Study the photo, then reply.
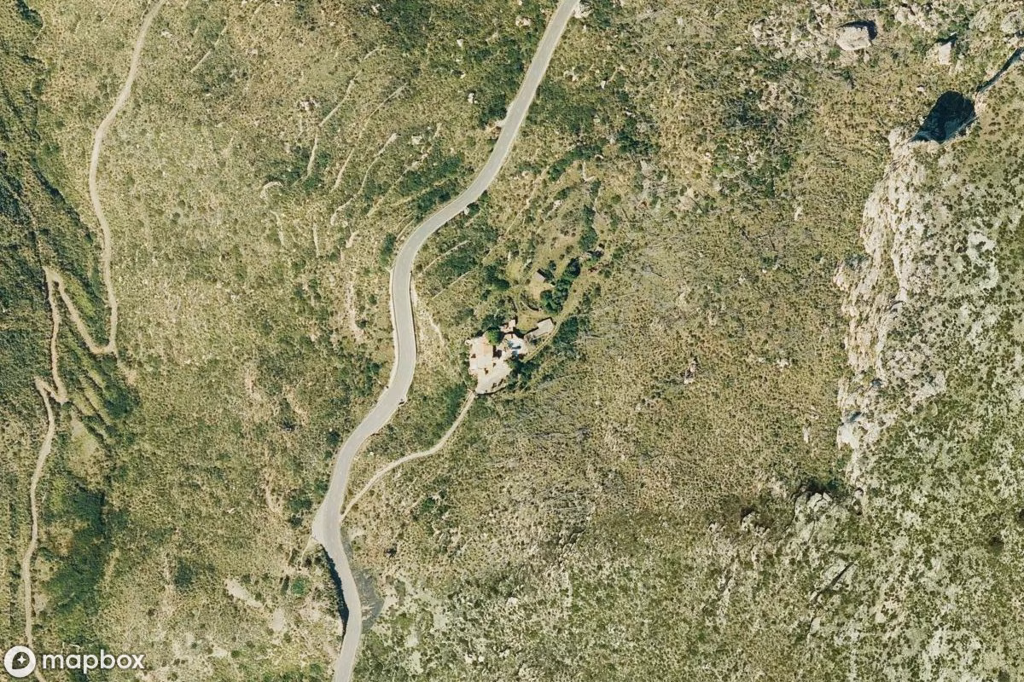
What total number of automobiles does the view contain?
0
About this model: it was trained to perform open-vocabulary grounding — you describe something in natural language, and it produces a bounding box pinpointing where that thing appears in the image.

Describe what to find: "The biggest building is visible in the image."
[469,334,494,377]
